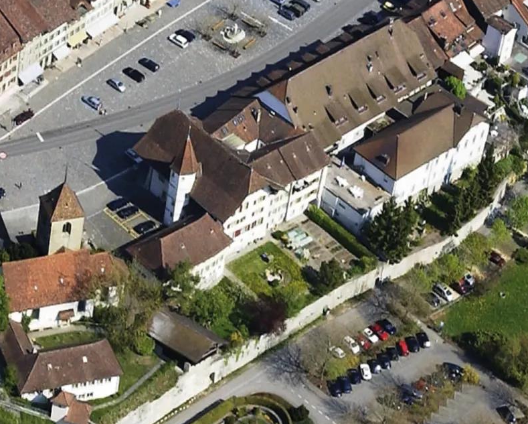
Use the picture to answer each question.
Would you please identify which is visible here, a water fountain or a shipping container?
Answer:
water fountain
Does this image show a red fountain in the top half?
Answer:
No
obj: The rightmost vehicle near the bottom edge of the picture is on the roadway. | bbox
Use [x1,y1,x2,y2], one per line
[496,406,518,424]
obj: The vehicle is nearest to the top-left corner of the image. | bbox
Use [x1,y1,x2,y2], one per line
[12,110,34,124]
